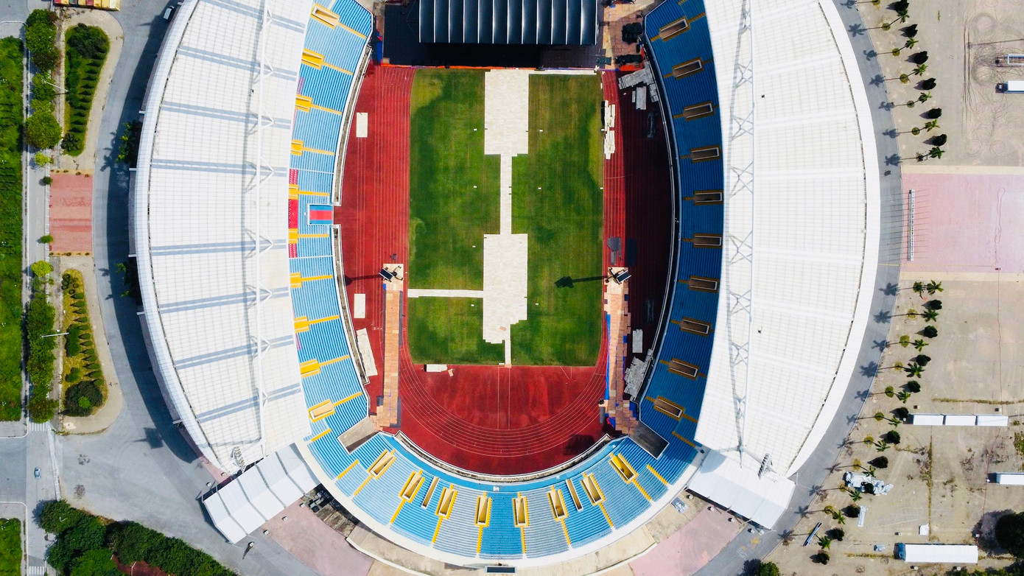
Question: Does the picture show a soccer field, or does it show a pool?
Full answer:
This aerial view contains a soccer field.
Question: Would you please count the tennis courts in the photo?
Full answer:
I count no tennis courts.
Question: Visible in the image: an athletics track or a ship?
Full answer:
The image shows an athletics track.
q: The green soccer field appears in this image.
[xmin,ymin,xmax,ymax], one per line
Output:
[409,67,604,367]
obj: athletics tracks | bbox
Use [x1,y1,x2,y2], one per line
[333,17,672,470]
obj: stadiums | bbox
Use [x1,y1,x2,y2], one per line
[128,0,877,576]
